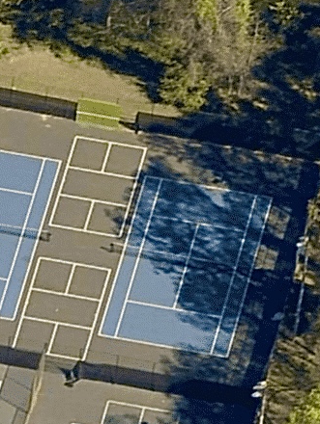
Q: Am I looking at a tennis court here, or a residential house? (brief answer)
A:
tennis court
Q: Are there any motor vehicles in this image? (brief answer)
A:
No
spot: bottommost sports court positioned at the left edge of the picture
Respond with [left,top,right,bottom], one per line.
[14,257,110,360]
